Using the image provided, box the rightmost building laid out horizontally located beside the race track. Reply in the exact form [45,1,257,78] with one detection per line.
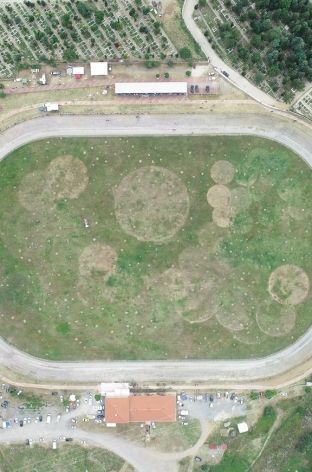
[105,391,176,425]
